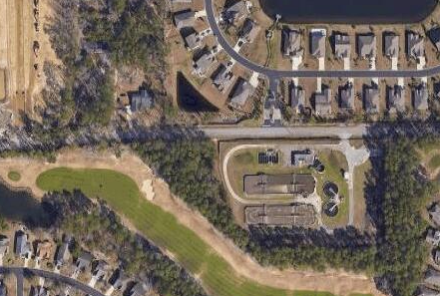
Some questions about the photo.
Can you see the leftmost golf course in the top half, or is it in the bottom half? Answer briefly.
bottom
